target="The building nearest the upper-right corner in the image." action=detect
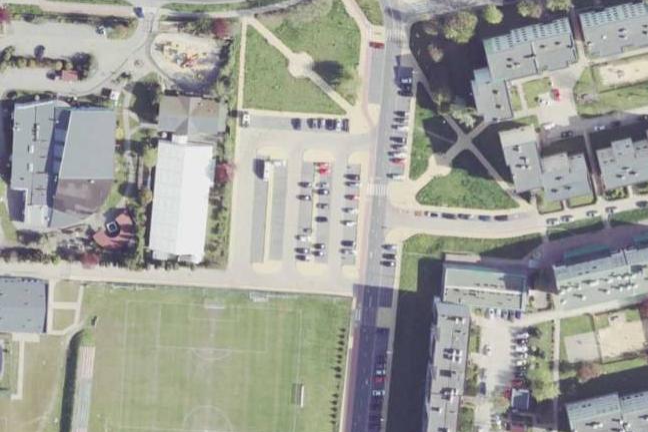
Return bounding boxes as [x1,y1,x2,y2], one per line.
[578,0,648,60]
